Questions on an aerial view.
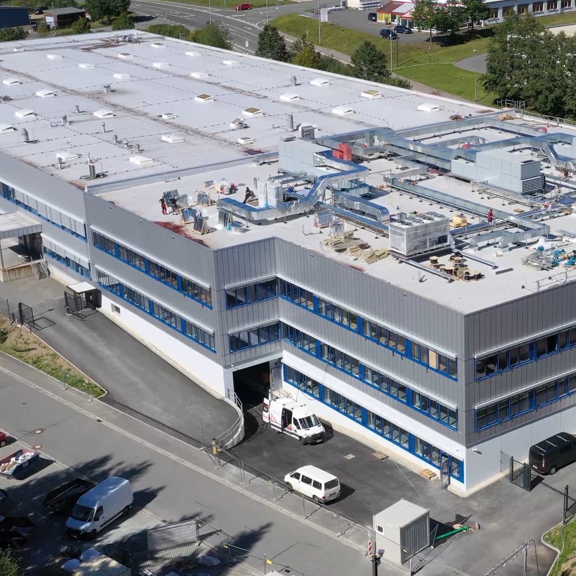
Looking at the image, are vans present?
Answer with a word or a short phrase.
Yes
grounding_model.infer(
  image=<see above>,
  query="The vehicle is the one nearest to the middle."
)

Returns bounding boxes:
[255,396,326,444]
